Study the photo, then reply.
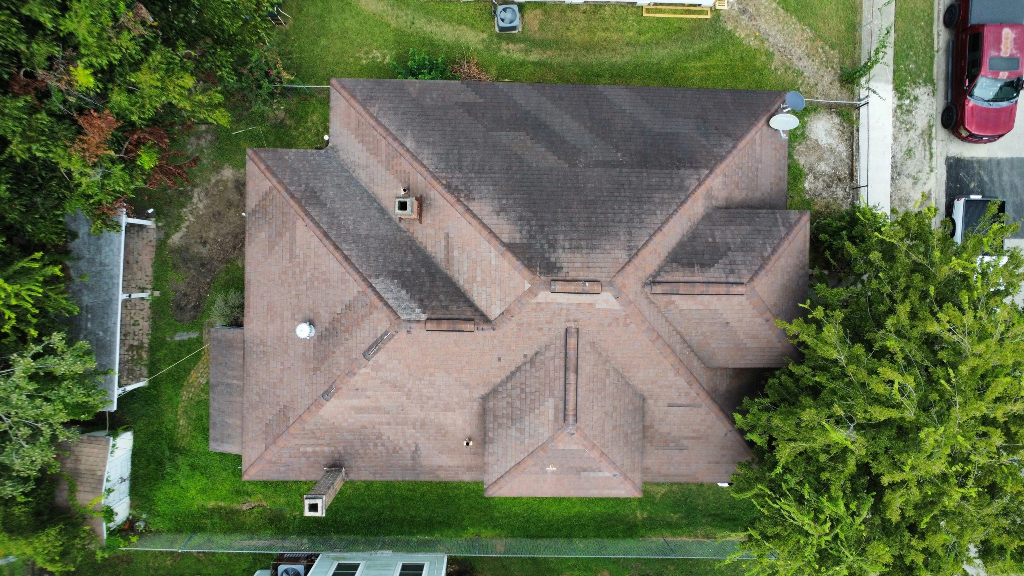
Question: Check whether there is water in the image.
No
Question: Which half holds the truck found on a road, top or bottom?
top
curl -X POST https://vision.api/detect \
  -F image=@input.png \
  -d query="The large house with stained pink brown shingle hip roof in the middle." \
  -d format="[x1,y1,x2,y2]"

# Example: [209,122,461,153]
[209,78,811,516]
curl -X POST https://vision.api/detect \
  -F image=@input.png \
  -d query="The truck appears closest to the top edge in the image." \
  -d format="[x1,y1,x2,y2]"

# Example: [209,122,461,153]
[941,0,1024,145]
